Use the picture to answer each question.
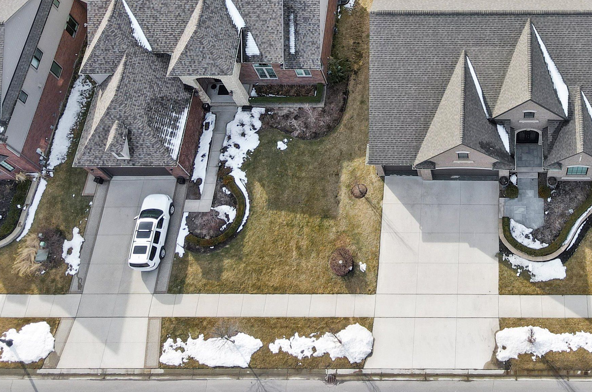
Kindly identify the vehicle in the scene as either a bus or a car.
car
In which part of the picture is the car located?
left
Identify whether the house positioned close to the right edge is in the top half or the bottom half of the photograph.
top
